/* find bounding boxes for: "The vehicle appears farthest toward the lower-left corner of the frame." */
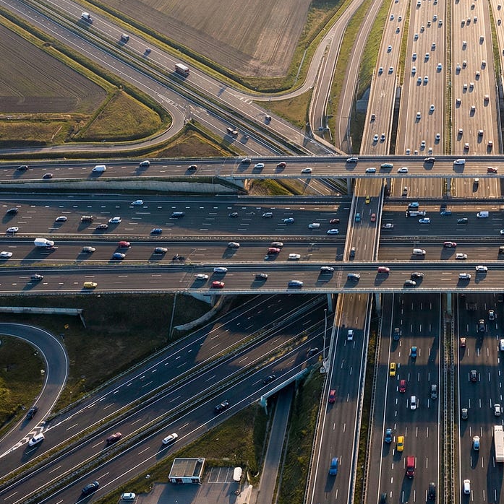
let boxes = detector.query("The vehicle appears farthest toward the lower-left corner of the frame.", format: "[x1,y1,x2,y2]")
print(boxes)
[28,433,45,446]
